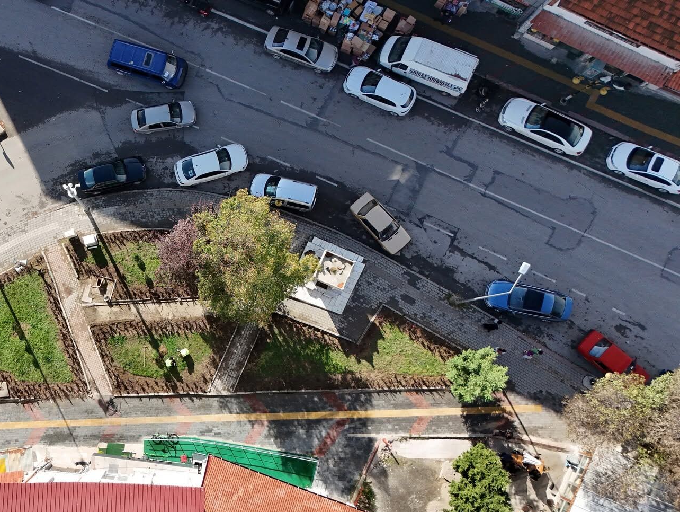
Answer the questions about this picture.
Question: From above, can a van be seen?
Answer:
Yes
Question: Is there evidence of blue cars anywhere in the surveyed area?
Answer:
Yes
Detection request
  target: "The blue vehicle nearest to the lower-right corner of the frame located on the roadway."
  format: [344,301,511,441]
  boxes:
[483,281,575,325]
